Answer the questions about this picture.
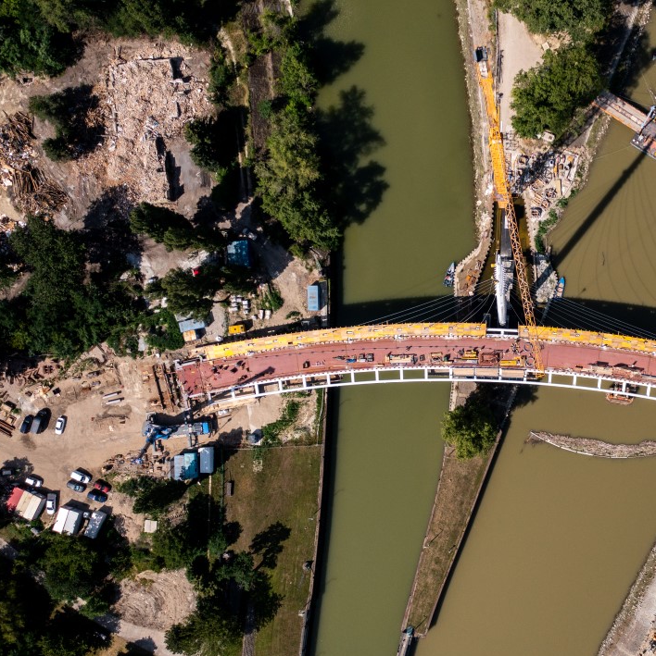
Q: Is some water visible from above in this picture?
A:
Yes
